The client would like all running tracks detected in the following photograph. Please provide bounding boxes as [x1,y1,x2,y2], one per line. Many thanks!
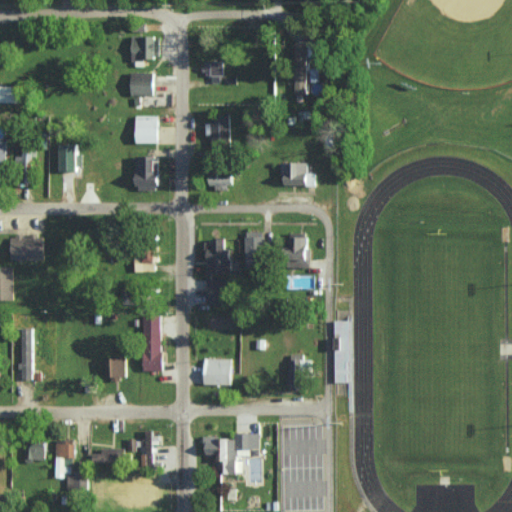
[354,157,512,512]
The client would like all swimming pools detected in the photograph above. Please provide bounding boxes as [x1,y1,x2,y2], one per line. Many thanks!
[286,276,316,290]
[246,456,264,488]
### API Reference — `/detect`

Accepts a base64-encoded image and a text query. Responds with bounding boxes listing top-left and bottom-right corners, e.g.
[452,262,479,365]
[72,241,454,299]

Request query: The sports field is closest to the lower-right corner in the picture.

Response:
[374,176,512,510]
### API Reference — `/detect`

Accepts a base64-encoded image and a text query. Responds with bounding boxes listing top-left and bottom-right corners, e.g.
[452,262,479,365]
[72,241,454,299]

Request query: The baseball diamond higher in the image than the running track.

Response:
[376,0,512,90]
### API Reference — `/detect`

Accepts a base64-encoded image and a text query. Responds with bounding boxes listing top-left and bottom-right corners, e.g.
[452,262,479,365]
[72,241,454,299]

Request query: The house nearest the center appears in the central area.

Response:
[245,232,269,258]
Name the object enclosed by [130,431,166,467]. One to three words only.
house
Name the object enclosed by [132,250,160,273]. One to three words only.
house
